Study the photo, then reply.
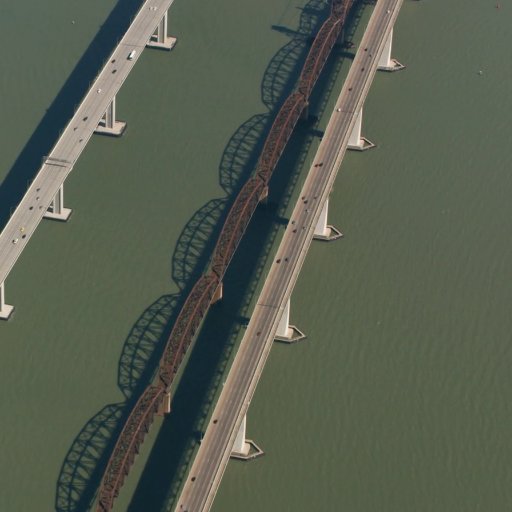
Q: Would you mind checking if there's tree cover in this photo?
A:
No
